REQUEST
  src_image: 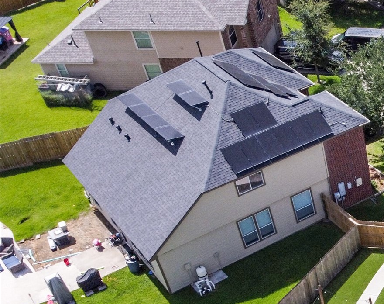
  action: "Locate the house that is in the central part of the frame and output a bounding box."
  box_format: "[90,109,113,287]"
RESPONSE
[62,46,375,293]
